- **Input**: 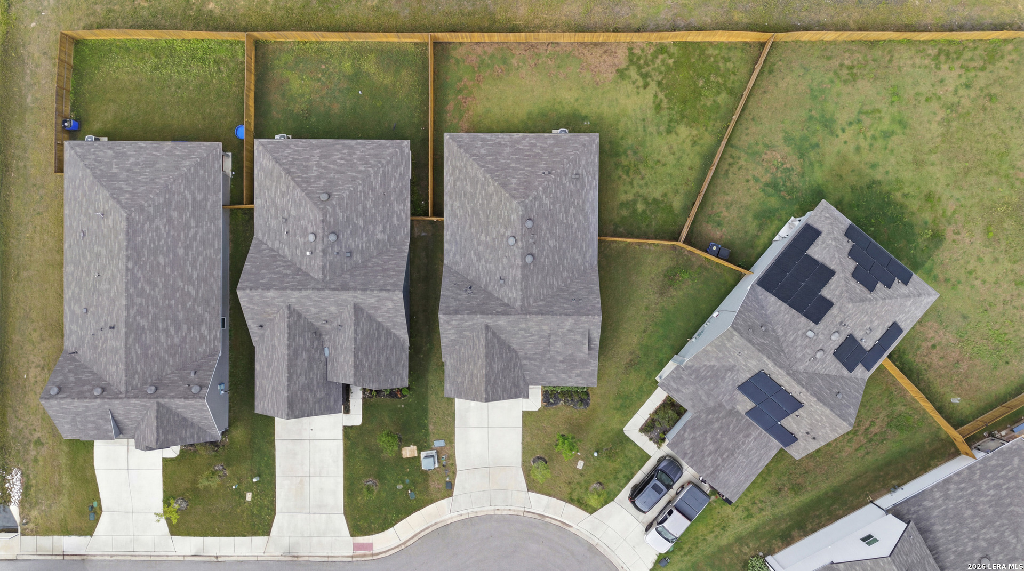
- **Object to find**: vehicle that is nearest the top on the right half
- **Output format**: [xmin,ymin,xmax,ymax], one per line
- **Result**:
[626,454,683,512]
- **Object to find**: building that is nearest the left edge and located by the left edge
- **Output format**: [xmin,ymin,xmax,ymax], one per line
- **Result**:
[40,140,232,451]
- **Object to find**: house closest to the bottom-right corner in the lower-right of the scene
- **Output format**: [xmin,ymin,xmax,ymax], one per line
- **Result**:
[767,435,1024,571]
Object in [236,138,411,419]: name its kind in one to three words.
house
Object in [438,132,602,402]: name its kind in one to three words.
house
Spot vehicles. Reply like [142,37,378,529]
[626,454,683,512]
[643,482,708,553]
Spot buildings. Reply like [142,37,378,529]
[40,140,232,451]
[438,132,602,402]
[767,435,1024,571]
[236,138,411,419]
[658,199,940,503]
